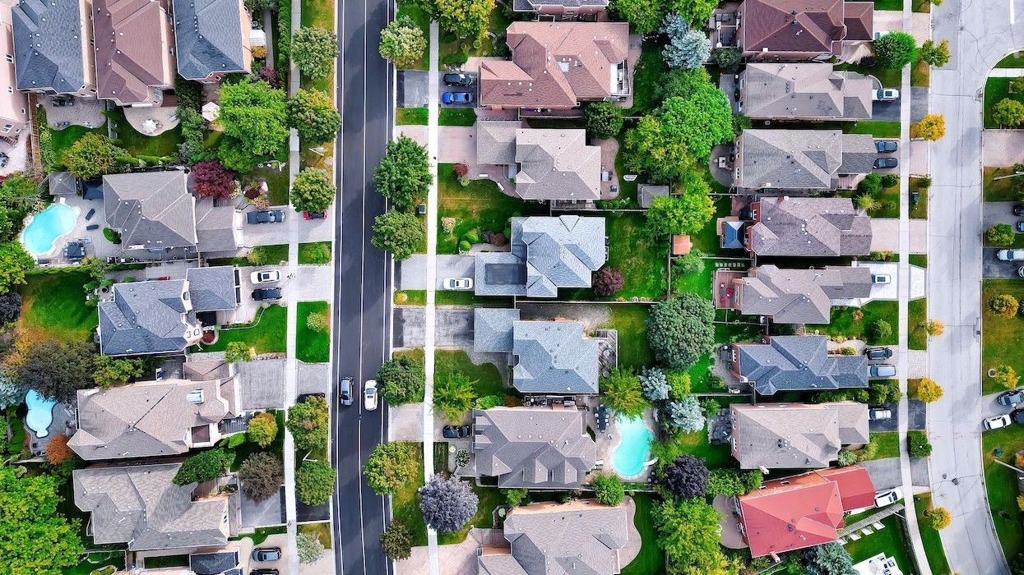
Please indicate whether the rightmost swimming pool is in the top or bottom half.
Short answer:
bottom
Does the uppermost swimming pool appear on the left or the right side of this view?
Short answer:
left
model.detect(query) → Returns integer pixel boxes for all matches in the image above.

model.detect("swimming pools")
[611,411,655,480]
[19,199,80,256]
[24,390,55,438]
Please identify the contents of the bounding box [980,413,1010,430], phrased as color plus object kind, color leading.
white car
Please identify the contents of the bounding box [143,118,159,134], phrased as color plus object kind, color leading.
white umbrella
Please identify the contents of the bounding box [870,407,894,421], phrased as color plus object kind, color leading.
white car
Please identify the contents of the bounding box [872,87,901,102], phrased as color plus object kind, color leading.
white vehicle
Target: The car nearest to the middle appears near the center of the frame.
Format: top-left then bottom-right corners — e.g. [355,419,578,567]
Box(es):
[444,277,473,291]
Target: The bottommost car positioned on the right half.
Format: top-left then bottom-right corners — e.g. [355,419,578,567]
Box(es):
[874,488,902,506]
